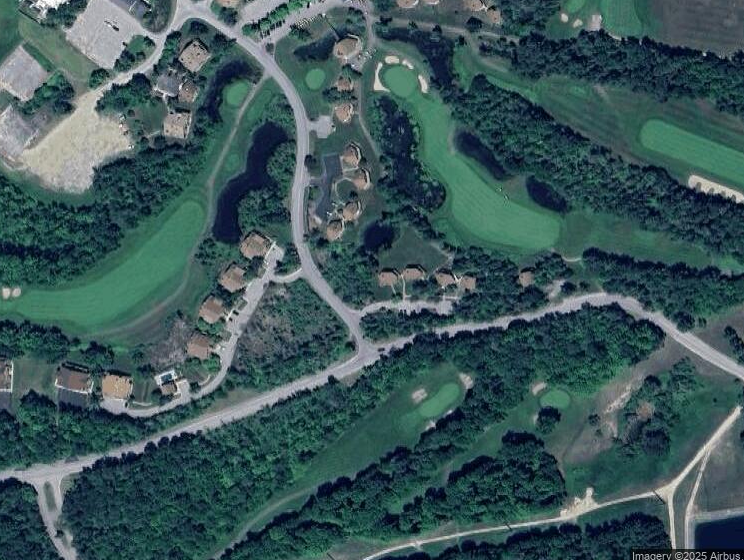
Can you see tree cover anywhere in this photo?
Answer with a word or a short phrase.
Yes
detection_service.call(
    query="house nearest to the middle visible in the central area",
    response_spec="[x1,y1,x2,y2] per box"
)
[376,267,397,287]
